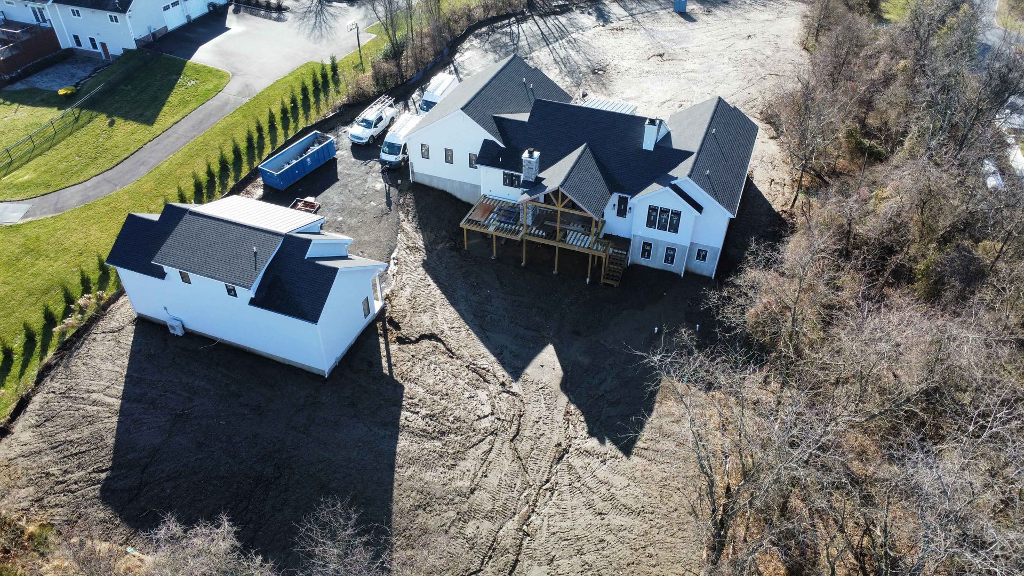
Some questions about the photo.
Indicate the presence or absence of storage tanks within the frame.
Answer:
No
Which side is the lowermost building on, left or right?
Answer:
left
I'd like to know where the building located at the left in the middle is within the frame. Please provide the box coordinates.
[101,194,388,379]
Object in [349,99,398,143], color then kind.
white truck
